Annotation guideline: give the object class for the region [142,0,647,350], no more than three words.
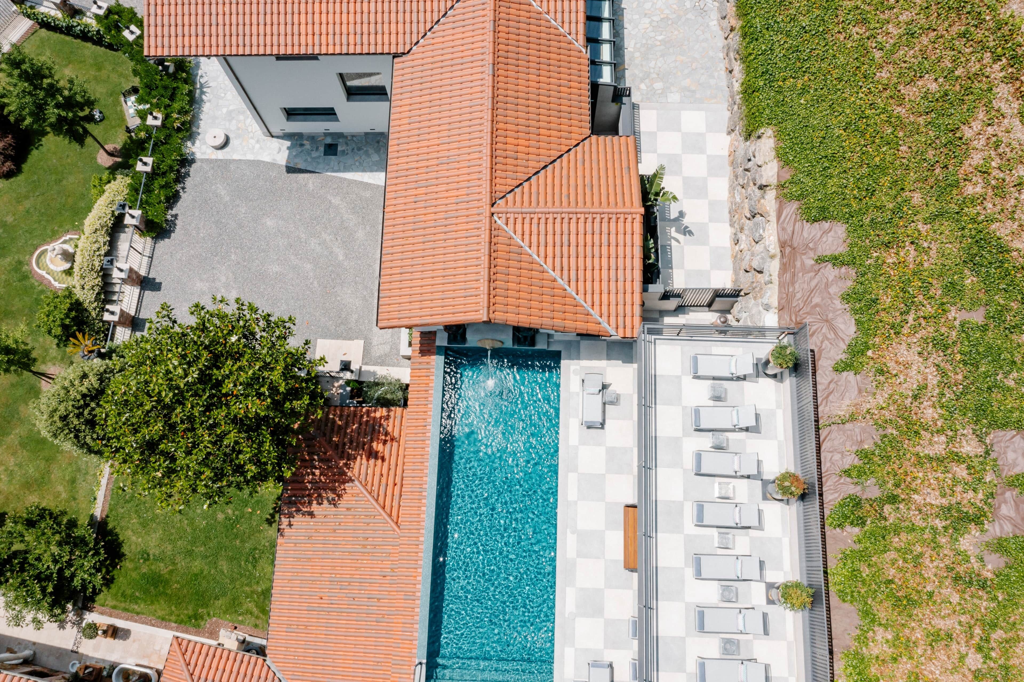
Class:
house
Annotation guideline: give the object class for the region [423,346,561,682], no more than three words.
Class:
swimming pool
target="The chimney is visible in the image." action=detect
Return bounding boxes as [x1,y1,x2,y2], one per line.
[219,622,254,649]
